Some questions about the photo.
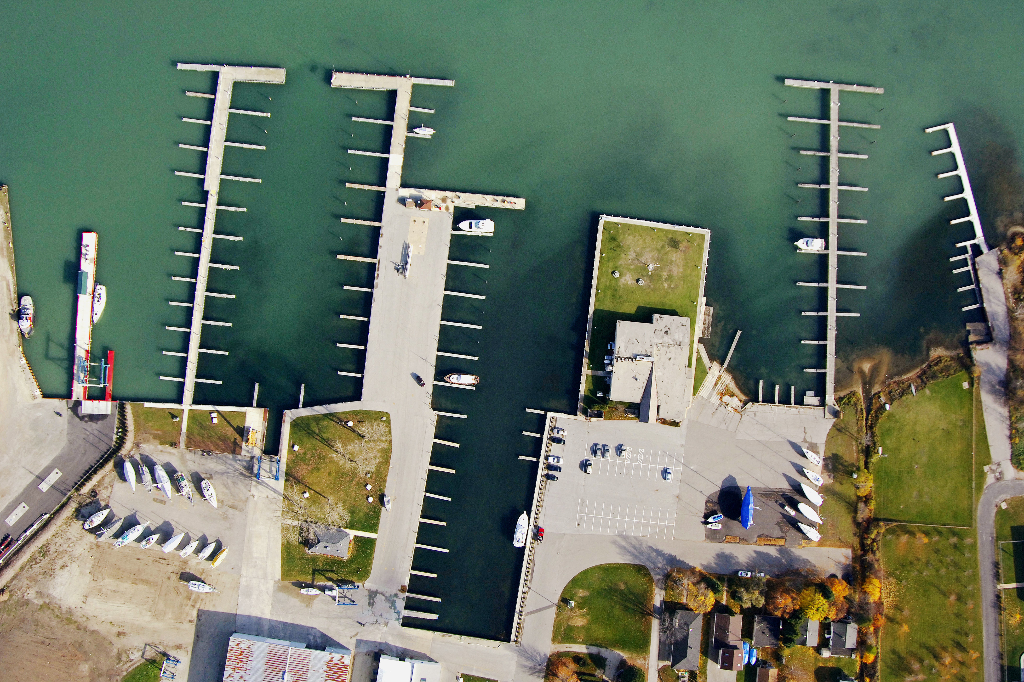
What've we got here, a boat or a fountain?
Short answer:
boat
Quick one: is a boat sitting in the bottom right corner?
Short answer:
Yes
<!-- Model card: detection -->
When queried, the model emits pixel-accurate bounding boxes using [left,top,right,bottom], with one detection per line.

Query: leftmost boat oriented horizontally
[178,582,228,596]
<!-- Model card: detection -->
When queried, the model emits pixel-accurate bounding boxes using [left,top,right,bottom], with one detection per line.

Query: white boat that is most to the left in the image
[16,296,35,337]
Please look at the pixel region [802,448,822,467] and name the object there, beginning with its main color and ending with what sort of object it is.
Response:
white boat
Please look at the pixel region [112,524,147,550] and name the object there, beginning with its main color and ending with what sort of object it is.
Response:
white boat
